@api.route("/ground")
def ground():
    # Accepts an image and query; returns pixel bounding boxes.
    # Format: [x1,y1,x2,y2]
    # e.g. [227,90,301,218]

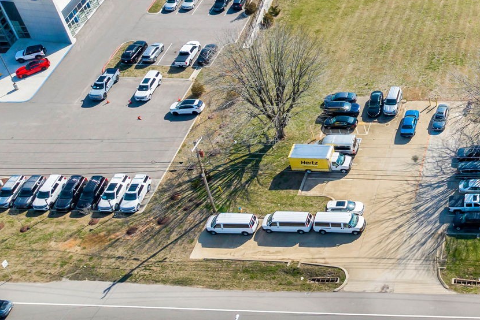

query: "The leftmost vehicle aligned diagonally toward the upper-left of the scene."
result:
[89,68,123,99]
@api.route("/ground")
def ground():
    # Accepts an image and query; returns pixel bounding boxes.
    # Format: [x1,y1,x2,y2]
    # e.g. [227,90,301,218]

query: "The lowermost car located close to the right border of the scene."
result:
[452,210,480,231]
